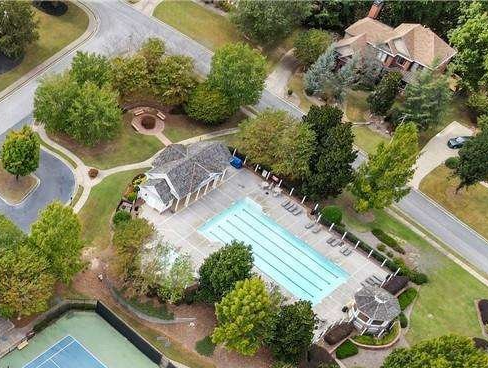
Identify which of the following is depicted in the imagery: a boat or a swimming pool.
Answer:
swimming pool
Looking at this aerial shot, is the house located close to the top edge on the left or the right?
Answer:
right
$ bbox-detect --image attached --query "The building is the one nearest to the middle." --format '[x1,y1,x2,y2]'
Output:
[136,135,238,213]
